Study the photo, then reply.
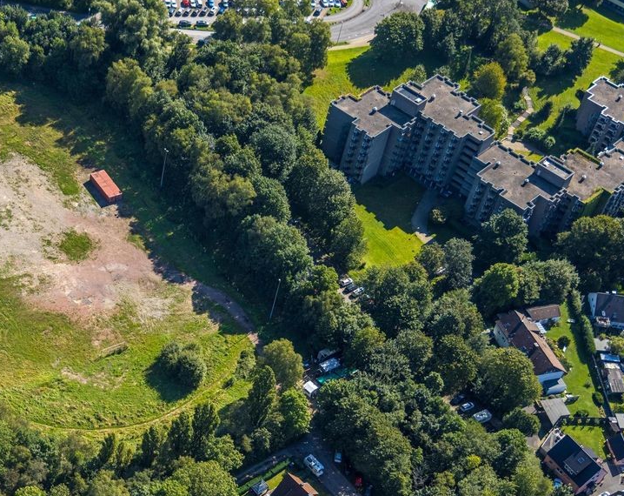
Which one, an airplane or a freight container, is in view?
freight container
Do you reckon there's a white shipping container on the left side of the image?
No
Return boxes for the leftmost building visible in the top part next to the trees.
[321,73,499,194]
